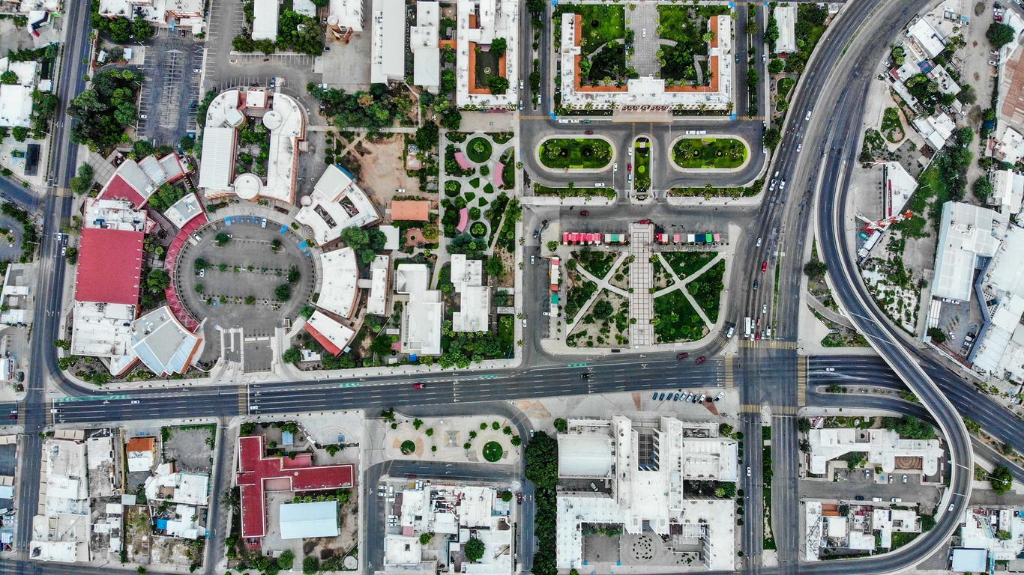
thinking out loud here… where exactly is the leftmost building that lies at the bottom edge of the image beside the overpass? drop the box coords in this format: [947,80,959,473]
[556,415,738,570]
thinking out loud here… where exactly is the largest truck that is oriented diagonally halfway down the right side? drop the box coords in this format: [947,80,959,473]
[856,230,880,259]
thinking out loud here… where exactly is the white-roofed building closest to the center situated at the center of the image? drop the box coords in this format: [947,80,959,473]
[451,255,491,332]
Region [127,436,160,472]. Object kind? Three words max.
house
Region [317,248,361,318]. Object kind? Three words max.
building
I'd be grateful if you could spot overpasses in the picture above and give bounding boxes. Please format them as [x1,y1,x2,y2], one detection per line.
[814,153,974,575]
